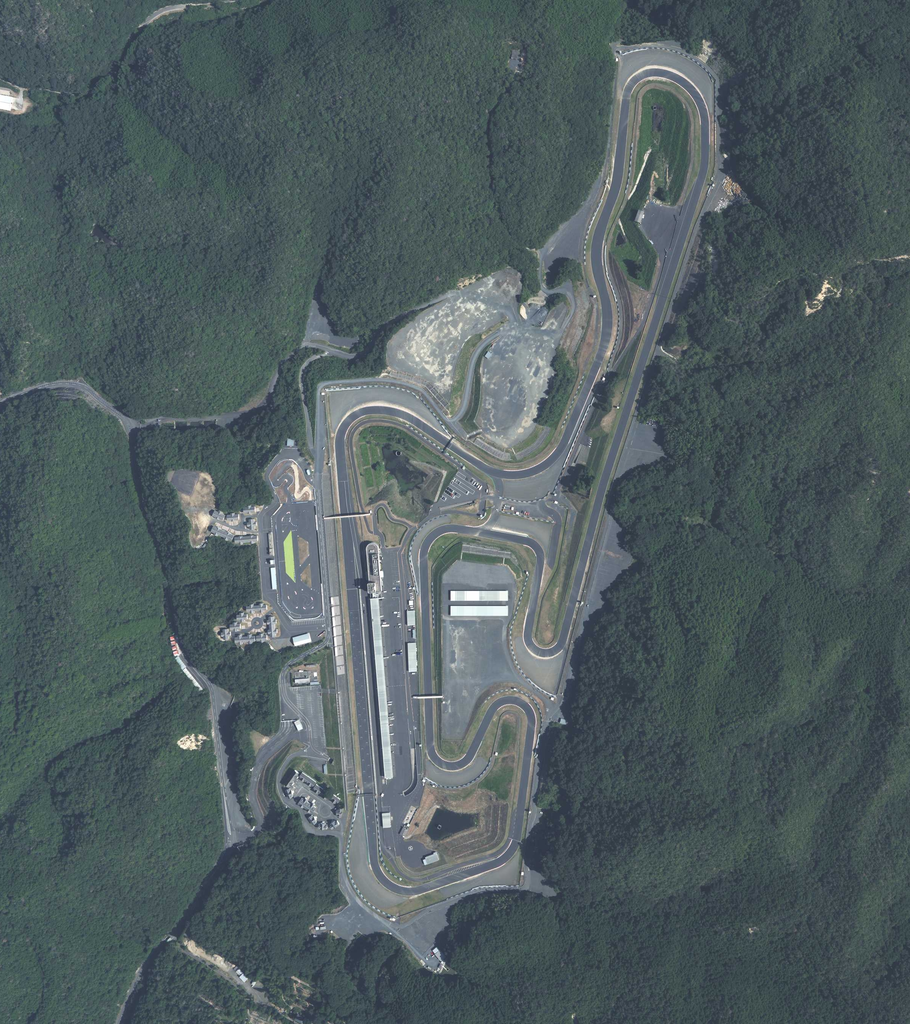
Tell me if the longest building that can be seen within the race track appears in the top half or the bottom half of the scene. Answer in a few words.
bottom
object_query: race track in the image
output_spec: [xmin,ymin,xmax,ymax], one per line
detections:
[335,68,710,896]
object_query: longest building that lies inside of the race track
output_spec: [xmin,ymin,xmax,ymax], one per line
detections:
[369,598,393,783]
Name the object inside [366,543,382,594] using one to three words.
building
